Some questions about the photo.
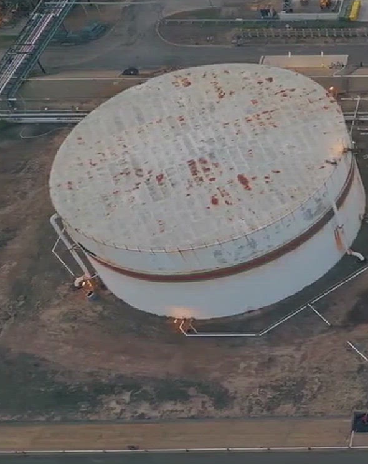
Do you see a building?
No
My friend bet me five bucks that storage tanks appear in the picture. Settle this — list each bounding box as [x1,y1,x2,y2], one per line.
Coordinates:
[48,60,368,320]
